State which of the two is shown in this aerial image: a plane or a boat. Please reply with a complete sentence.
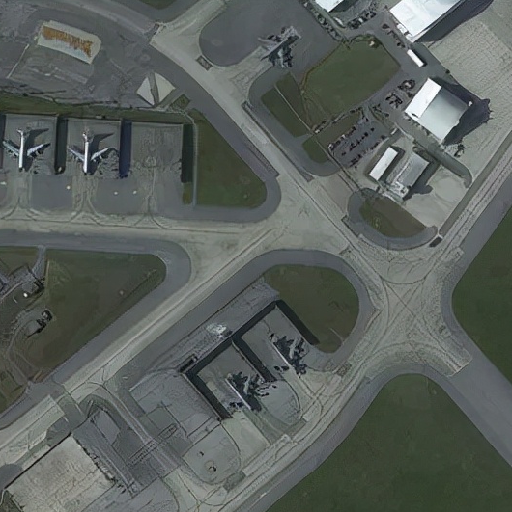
I can see a plane in this picture.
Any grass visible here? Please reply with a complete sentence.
Yes, there is grass in the image.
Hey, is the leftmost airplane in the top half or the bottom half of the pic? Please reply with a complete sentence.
The leftmost airplane is in the top half of the image.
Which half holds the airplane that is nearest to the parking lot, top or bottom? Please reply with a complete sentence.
The airplane that is nearest to the parking lot sits in the top half of the picture.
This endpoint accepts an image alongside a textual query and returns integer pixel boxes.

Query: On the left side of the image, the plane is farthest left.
[2,130,42,170]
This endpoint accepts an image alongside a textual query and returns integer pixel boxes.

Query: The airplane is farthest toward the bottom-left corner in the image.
[216,371,253,410]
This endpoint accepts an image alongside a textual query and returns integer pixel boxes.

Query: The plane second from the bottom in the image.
[259,331,295,371]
